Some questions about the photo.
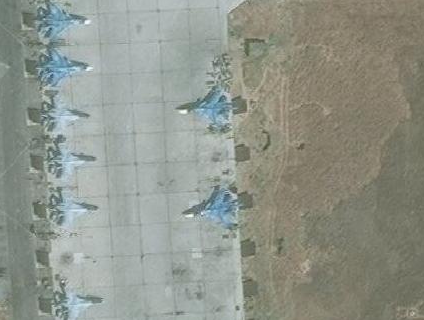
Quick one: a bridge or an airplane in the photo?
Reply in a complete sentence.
Of the two, only an airplane appears.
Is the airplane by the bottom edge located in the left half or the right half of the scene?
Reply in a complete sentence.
The airplane by the bottom edge appears in the left half of the scene.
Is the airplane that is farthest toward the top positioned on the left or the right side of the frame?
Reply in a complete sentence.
The airplane that is farthest toward the top is on the left side of the image.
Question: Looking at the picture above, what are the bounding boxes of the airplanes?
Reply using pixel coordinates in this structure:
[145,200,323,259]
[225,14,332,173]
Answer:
[36,50,92,86]
[33,2,90,39]
[178,90,234,127]
[39,97,94,133]
[49,286,104,320]
[45,192,99,227]
[184,191,240,228]
[43,144,98,180]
